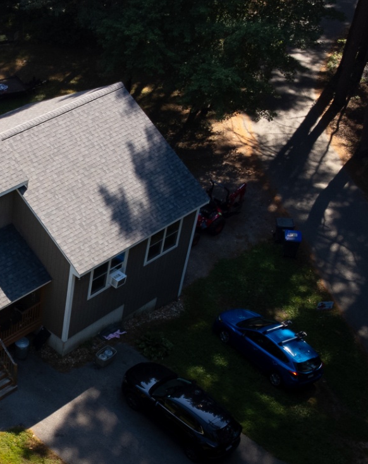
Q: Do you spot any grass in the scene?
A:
Yes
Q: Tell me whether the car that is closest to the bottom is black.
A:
Yes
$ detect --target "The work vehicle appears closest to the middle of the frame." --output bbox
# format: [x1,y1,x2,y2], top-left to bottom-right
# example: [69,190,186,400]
[183,176,231,265]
